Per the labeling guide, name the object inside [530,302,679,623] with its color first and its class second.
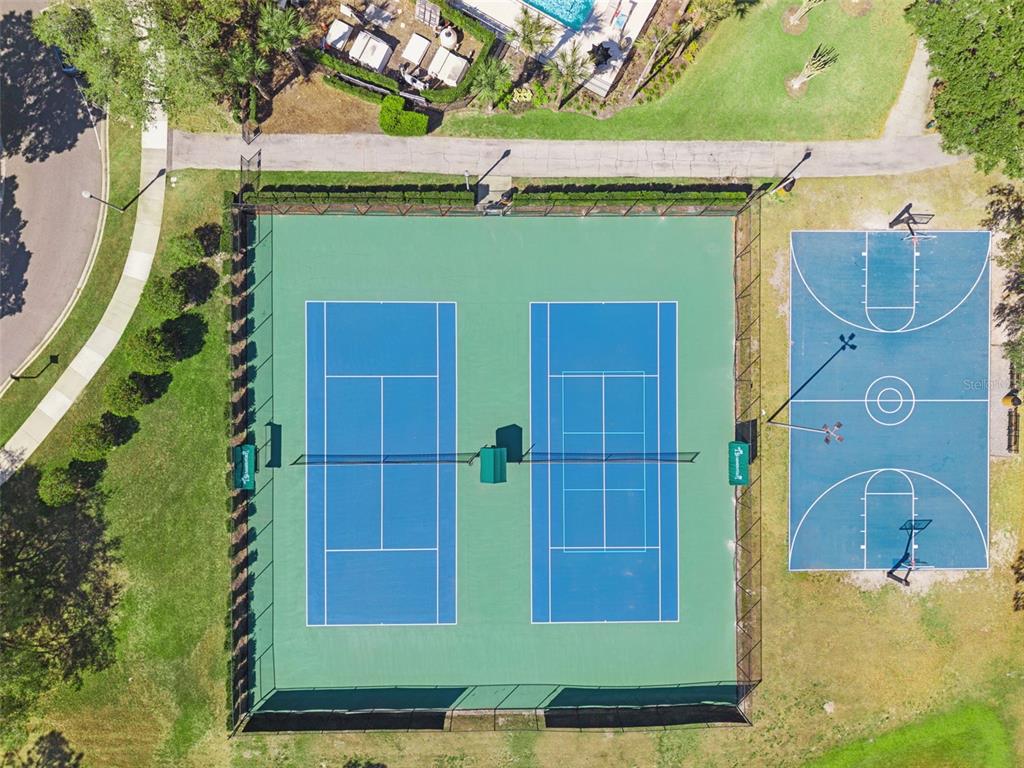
blue tennis court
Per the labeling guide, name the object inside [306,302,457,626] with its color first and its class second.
blue tennis court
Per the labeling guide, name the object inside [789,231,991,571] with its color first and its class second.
blue basketball court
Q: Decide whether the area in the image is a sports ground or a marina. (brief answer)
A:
sports ground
